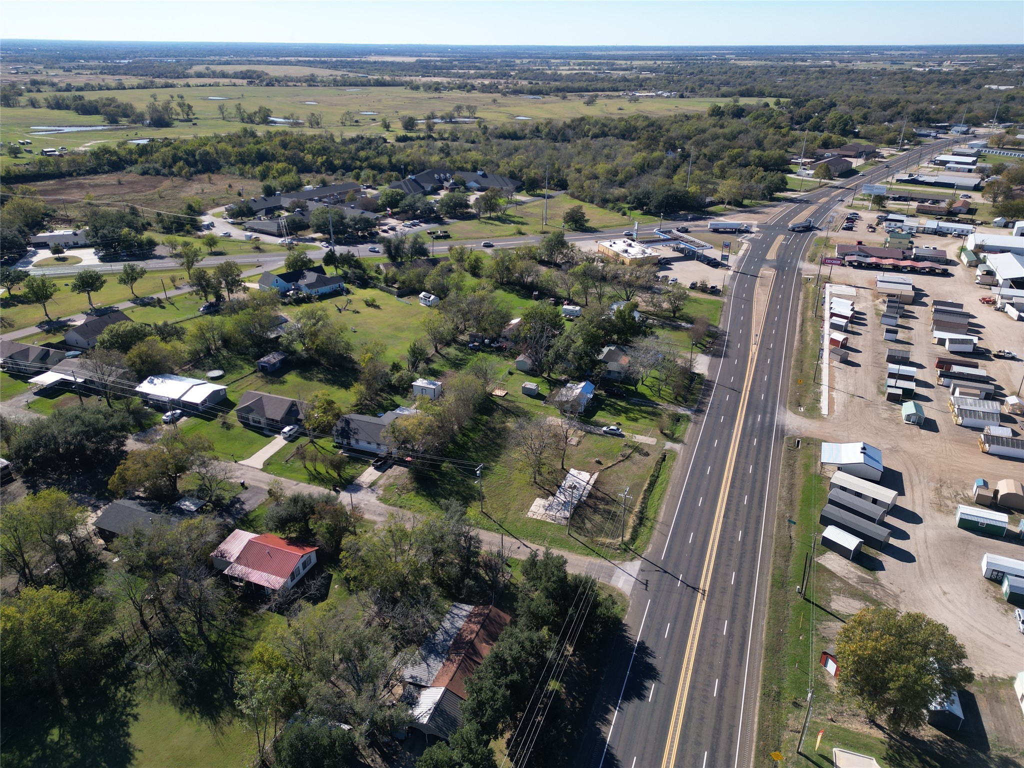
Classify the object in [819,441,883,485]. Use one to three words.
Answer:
barn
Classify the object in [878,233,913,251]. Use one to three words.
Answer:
building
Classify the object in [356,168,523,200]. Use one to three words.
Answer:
house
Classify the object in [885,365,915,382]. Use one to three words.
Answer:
shed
